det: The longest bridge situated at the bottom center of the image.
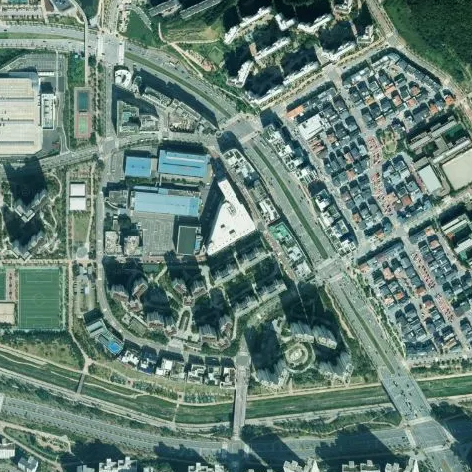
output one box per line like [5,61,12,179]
[233,367,250,438]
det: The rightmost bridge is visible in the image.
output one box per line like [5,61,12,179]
[379,363,433,430]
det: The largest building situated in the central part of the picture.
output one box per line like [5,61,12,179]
[205,177,257,259]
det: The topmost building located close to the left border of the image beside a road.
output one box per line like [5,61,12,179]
[0,79,42,154]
